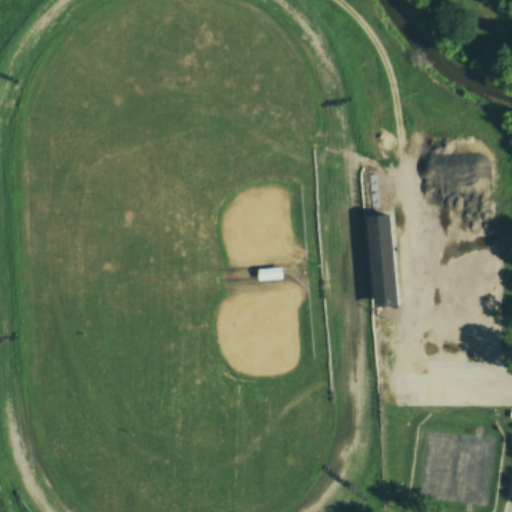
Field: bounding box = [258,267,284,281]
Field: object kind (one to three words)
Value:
shed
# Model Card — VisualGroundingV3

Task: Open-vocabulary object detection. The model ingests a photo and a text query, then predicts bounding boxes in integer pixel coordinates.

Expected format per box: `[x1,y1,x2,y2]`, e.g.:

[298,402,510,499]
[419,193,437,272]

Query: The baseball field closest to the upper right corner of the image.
[222,186,306,270]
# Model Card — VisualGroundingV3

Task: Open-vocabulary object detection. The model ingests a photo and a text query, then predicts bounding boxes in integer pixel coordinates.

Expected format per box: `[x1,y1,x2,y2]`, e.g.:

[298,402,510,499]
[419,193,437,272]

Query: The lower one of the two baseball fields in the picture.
[218,275,306,376]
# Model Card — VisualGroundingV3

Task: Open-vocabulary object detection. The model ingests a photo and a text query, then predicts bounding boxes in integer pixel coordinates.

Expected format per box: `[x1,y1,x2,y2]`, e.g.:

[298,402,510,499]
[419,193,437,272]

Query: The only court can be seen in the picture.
[422,430,496,512]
